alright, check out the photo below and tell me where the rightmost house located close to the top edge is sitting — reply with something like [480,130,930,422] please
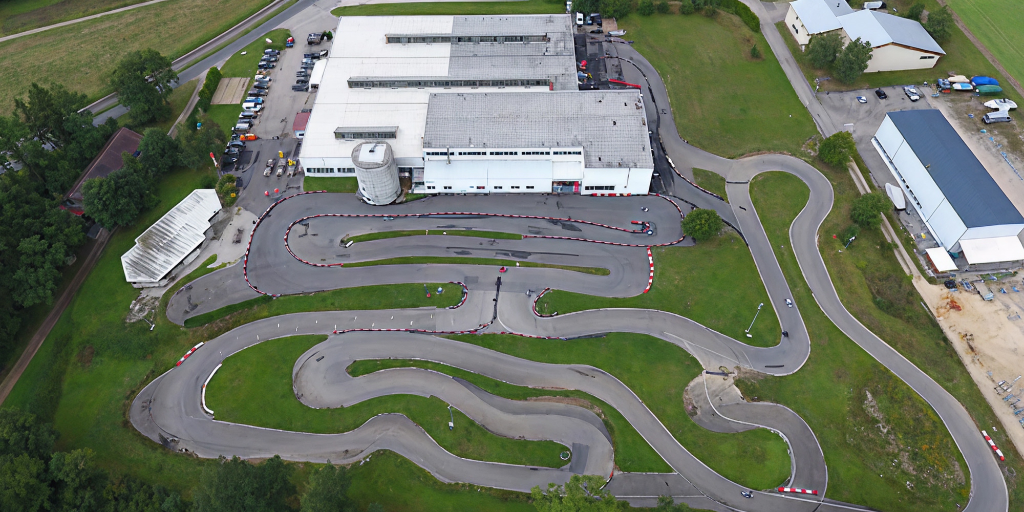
[838,9,946,67]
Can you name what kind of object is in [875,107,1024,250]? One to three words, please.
building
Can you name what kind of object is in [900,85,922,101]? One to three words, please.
car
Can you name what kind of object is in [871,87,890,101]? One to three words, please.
car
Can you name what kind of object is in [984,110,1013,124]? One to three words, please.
vehicle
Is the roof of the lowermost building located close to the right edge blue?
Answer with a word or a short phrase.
Yes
